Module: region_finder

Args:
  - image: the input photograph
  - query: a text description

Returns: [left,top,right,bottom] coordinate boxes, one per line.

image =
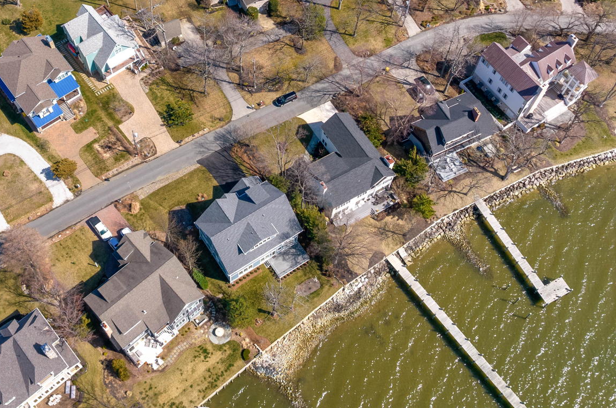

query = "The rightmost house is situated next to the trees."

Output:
[477,32,598,137]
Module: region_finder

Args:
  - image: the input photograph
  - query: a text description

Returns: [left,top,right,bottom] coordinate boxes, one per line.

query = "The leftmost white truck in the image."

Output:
[85,215,113,241]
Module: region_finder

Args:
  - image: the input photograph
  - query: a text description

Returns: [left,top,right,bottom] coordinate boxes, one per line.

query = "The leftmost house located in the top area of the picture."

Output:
[0,32,83,136]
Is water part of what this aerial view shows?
Yes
